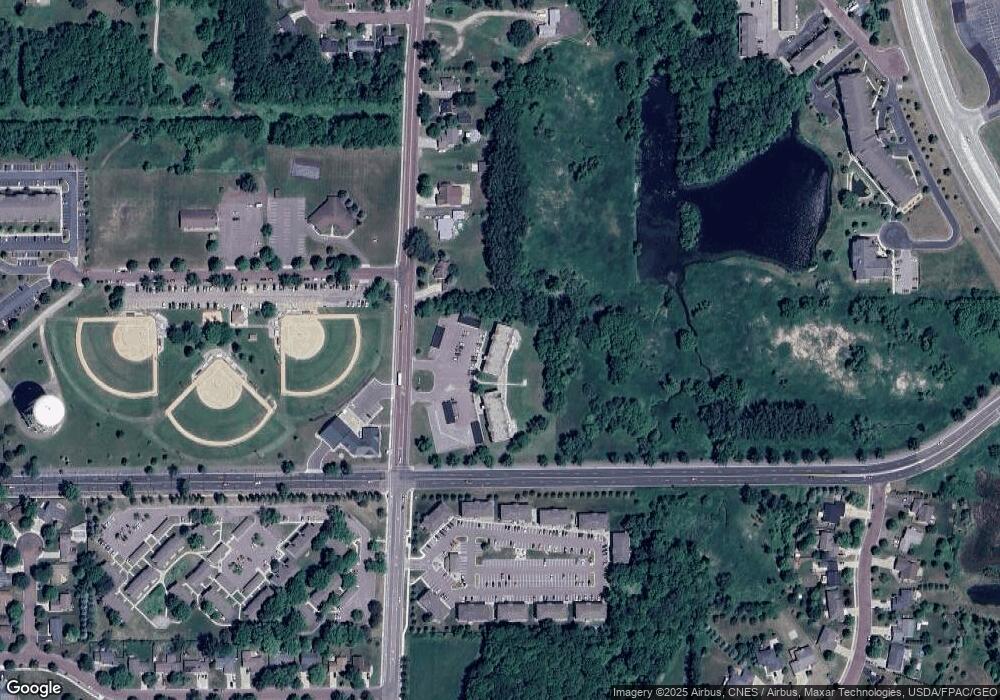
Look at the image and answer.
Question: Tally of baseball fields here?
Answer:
3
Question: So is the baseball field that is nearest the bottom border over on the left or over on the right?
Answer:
left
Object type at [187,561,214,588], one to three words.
building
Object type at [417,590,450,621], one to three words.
building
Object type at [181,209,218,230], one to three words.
barn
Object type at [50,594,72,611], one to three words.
house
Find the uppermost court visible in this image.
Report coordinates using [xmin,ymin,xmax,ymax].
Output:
[291,161,320,179]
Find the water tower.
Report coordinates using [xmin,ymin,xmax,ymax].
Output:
[30,394,66,432]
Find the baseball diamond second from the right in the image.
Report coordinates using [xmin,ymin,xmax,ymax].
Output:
[164,355,276,445]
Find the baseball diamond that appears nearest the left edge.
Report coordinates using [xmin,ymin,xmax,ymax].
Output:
[77,312,161,397]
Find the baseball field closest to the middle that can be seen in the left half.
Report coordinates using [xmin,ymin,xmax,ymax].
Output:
[277,310,360,395]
